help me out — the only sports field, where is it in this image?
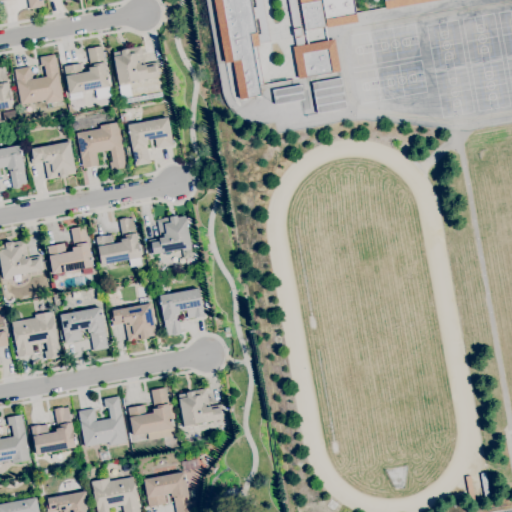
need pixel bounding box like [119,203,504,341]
[287,158,458,498]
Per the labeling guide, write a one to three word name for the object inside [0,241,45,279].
house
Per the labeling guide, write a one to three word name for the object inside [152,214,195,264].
house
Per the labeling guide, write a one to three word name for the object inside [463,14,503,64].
basketball court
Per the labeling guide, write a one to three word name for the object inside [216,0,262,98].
building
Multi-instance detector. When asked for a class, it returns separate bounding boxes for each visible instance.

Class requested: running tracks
[268,140,483,512]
